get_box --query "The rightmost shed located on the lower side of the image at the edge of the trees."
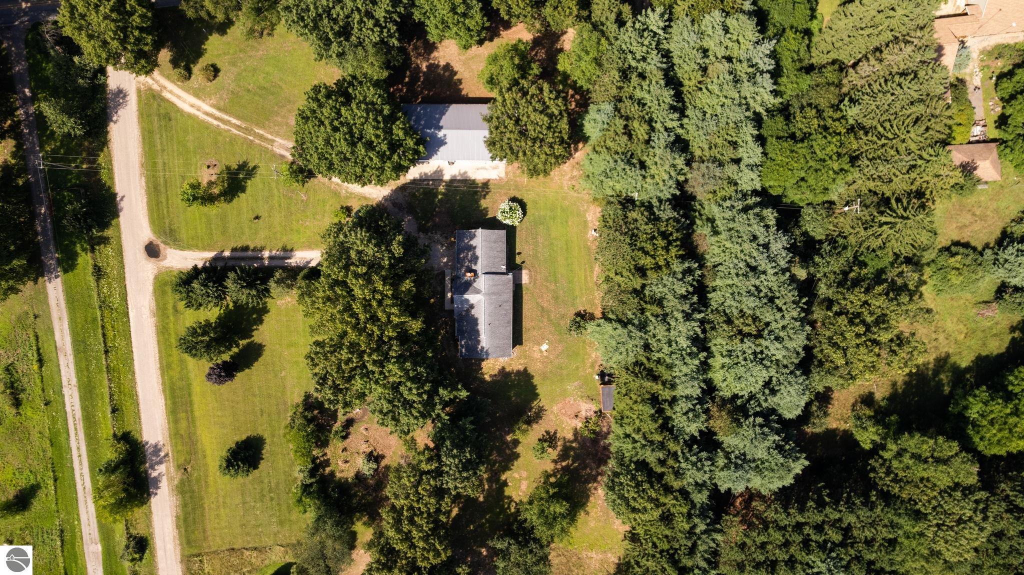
[601,385,616,412]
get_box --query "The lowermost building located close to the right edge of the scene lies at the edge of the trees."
[940,143,1002,182]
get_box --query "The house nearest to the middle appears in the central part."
[453,229,513,359]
